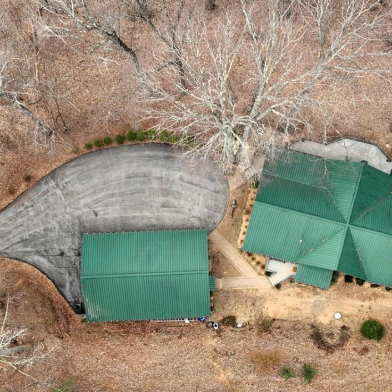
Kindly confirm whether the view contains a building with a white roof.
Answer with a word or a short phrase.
No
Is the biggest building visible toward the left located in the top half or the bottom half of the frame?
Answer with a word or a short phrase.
bottom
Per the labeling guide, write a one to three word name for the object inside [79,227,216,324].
building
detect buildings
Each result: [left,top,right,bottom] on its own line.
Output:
[242,137,392,291]
[79,227,216,324]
